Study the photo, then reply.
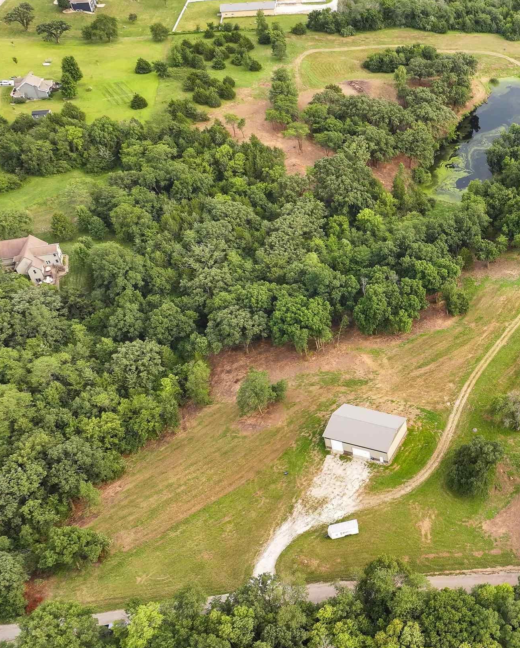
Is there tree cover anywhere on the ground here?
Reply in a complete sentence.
Yes, tree cover shows up in the scene.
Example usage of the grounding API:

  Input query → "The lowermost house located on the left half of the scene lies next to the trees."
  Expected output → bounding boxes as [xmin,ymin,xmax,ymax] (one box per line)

[0,230,71,286]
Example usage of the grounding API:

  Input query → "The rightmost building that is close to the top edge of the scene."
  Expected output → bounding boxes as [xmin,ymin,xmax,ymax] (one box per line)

[219,0,277,17]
